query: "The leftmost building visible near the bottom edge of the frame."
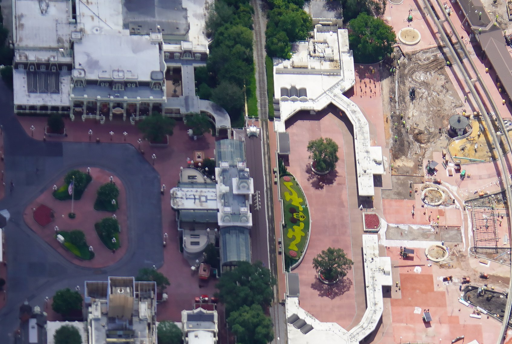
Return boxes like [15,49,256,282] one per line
[20,298,47,344]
